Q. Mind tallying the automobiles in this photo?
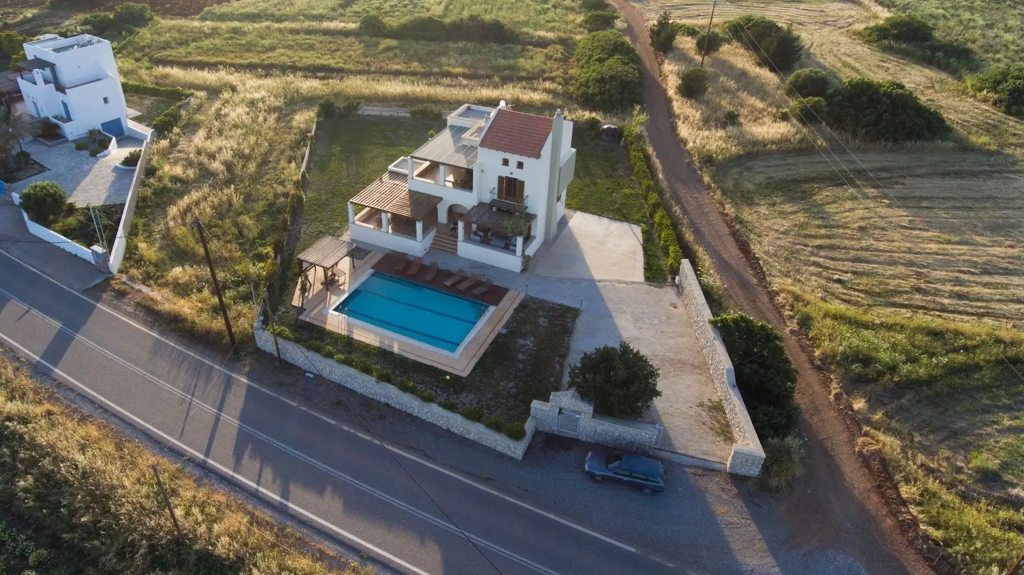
1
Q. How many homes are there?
2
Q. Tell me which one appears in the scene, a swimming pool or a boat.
swimming pool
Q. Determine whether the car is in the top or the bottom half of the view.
bottom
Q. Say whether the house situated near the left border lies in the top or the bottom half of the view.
top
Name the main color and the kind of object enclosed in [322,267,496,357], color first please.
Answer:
blue swimming pool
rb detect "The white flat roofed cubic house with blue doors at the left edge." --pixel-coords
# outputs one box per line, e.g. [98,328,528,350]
[15,31,129,157]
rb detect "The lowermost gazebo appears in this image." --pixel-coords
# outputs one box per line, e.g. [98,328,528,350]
[295,234,357,292]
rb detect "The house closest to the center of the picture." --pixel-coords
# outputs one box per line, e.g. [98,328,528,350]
[347,104,576,272]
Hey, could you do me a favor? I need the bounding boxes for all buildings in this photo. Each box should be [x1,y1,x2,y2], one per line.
[347,104,576,272]
[15,31,129,157]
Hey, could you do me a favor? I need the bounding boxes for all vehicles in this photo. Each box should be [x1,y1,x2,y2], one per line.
[583,449,670,497]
